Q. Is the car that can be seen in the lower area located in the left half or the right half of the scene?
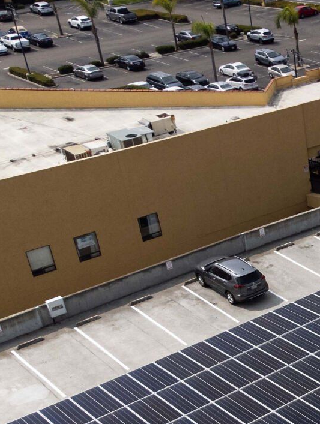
right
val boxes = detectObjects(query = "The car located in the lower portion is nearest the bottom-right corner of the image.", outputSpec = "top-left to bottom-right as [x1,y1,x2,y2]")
[193,255,268,305]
